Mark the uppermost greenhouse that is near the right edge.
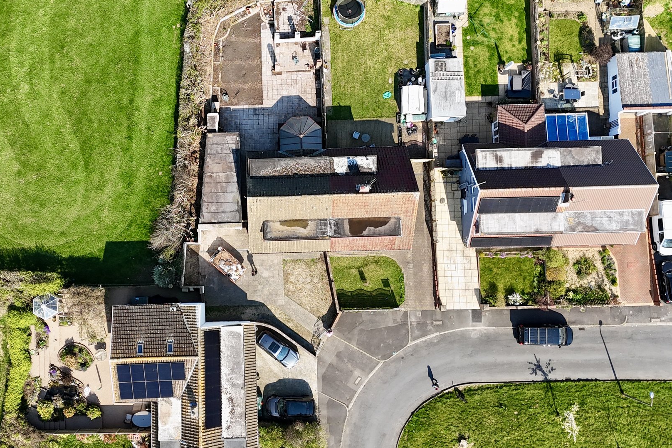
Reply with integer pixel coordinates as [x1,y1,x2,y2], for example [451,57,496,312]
[600,9,642,35]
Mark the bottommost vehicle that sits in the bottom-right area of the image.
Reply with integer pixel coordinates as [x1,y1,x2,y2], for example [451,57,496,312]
[515,323,572,349]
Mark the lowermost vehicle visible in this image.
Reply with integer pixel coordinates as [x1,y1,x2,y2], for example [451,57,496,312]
[265,394,318,422]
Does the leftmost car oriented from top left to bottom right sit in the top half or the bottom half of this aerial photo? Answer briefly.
bottom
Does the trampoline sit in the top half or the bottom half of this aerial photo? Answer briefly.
top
